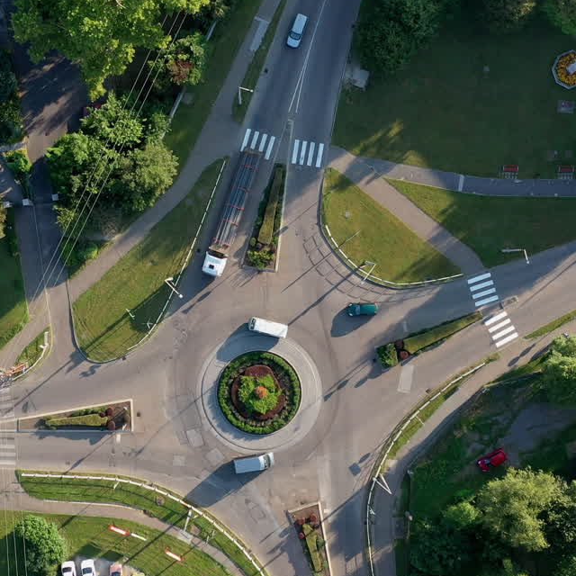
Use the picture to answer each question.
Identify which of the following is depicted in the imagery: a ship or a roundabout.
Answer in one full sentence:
The one in the frame is a roundabout.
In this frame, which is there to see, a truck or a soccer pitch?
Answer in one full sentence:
It is a truck that can be seen here.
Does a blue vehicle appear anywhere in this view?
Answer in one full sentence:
Yes, looking at the shot, I can spot a blue vehicle.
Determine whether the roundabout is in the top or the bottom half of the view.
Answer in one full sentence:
It is in the bottom half that the roundabout appears.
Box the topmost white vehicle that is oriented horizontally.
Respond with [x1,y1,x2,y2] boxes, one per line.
[249,315,289,339]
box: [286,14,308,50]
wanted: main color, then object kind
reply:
blue car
